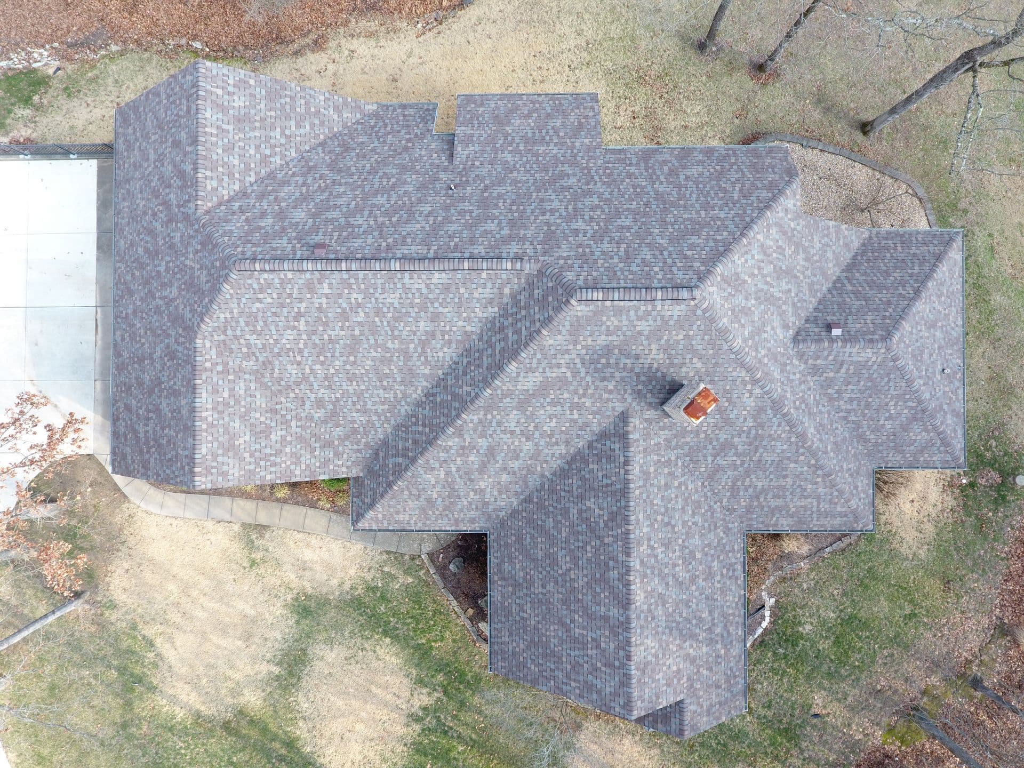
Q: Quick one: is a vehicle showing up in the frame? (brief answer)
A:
No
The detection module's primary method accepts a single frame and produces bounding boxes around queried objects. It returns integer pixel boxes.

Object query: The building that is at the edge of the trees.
[108,57,969,739]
